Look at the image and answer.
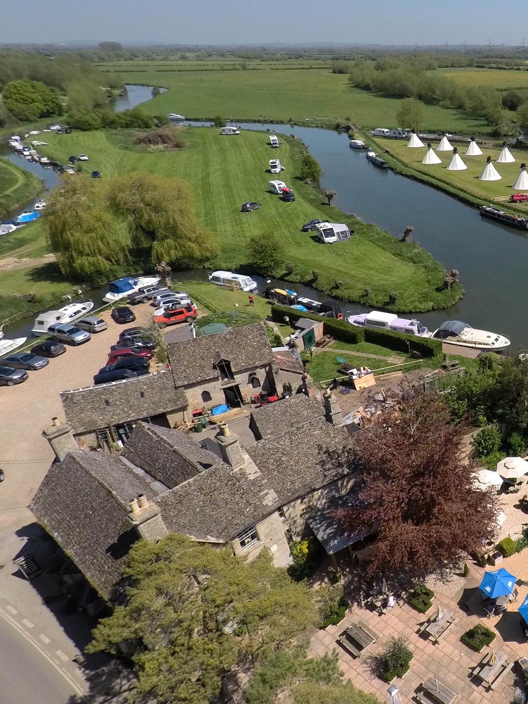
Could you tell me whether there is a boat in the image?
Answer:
Yes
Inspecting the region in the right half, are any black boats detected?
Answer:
Yes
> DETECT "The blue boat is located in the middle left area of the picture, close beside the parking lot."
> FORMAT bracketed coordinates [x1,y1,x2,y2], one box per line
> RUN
[102,274,159,302]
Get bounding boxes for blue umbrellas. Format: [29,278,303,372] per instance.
[478,570,517,603]
[517,594,528,628]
